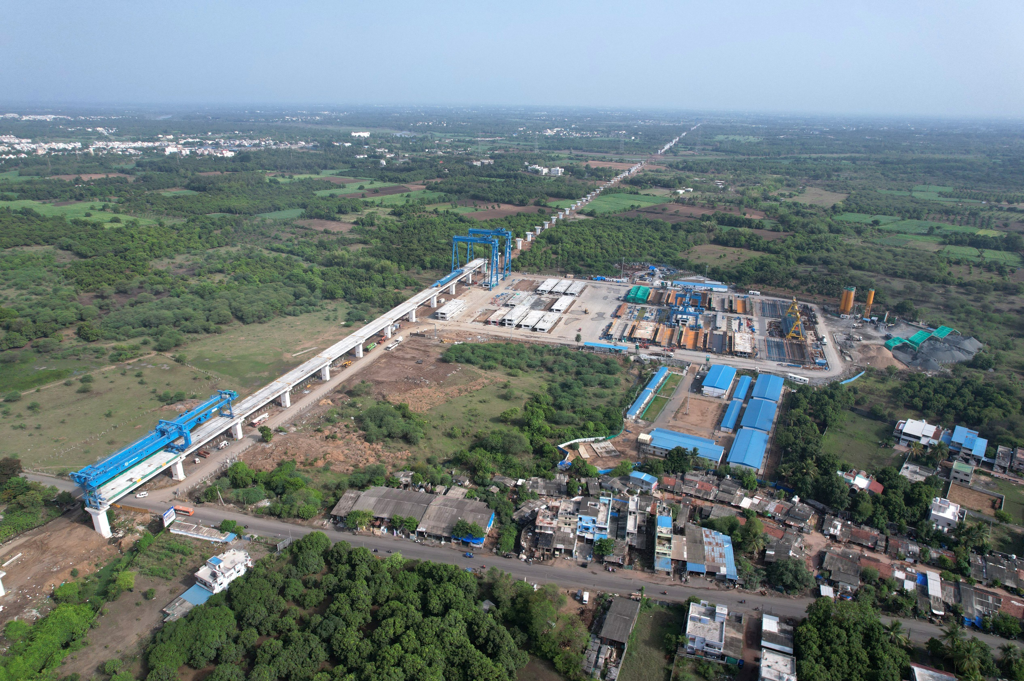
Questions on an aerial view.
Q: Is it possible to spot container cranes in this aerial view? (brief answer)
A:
Yes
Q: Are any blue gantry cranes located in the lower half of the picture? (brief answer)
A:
Yes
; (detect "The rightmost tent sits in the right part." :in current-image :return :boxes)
[626,286,654,306]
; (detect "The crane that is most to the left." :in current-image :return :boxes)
[66,388,245,512]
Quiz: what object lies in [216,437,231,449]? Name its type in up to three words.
vehicle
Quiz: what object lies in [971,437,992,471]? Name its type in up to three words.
house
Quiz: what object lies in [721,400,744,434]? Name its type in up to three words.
shed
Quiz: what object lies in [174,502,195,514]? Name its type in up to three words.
vehicle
